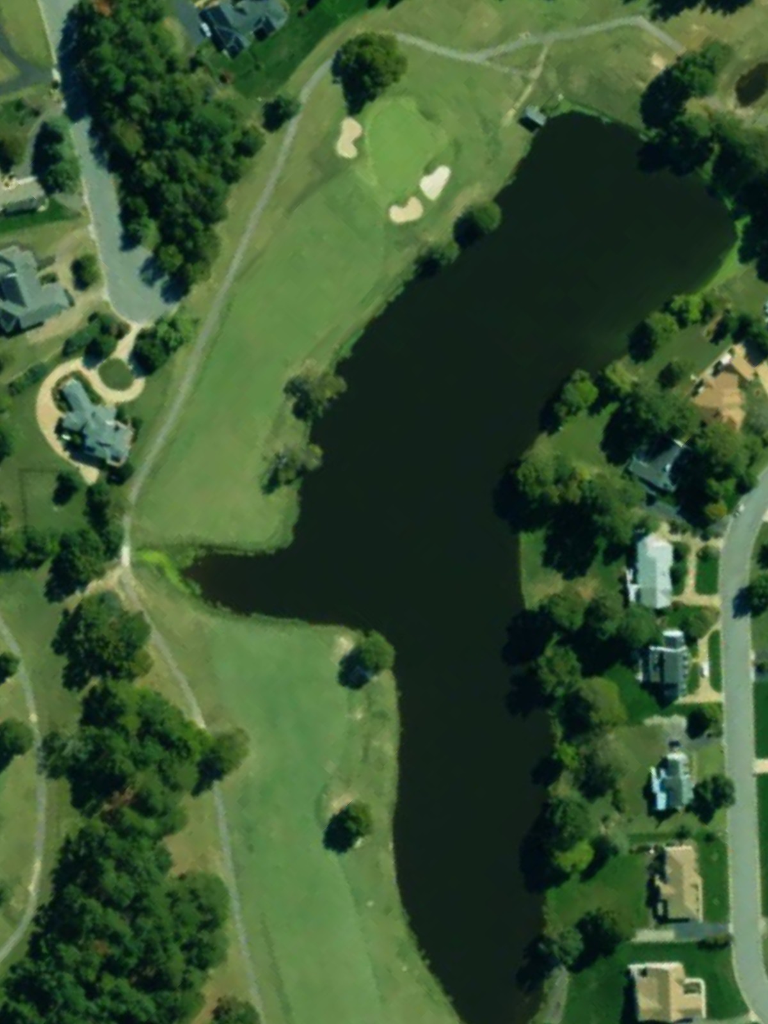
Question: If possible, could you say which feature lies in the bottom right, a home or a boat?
home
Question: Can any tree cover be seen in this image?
Yes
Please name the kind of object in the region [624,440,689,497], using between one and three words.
house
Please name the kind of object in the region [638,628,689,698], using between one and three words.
house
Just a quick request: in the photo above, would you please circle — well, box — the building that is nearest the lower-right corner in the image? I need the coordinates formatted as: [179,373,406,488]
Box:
[631,963,707,1024]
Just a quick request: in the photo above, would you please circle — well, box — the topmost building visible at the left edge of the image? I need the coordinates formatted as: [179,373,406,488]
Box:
[0,171,46,214]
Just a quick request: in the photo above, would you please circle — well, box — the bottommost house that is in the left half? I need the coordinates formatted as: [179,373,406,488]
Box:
[57,374,138,467]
